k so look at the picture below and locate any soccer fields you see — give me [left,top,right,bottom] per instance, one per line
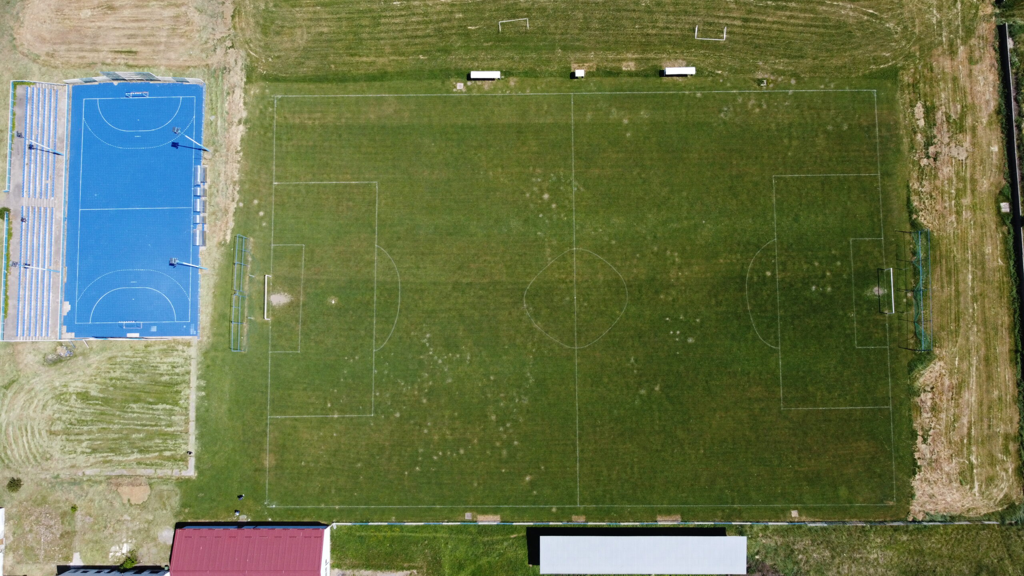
[250,87,901,514]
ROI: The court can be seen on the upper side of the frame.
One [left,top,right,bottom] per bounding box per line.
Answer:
[60,81,206,340]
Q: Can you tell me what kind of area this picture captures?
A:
sports ground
